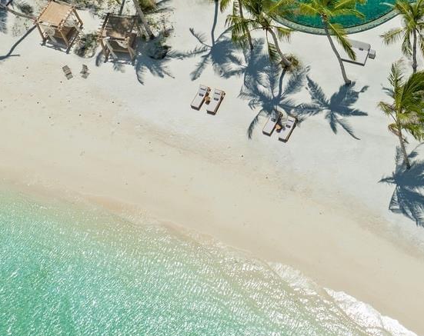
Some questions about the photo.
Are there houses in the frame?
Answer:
No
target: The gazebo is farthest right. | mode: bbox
[96,11,144,52]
